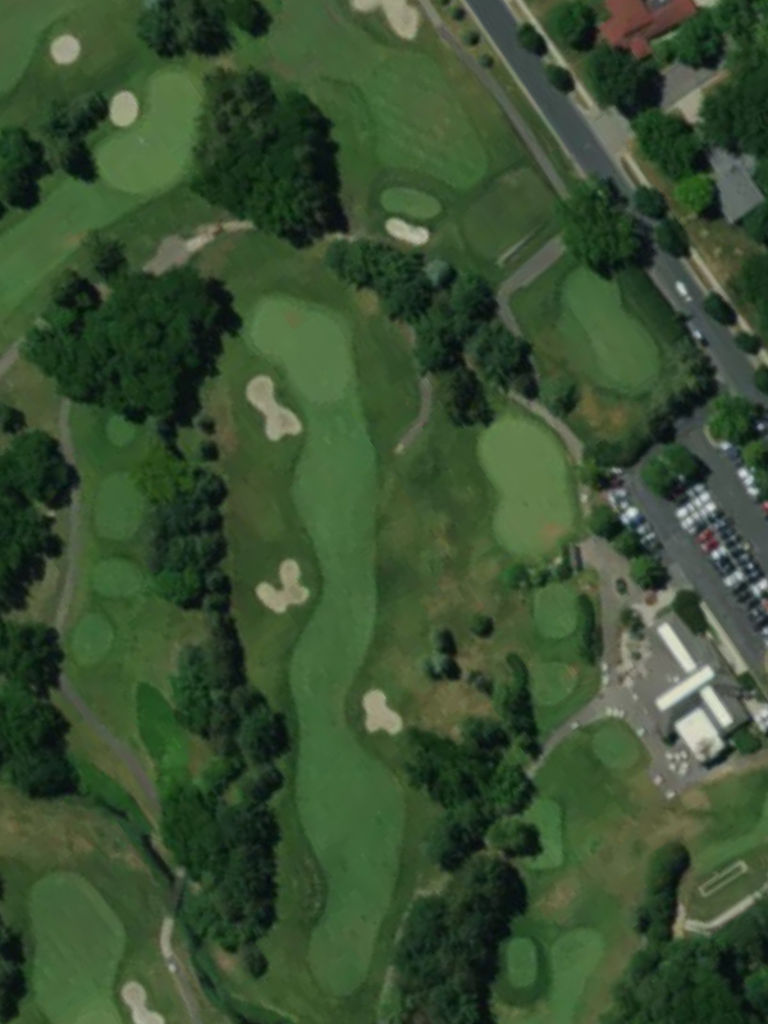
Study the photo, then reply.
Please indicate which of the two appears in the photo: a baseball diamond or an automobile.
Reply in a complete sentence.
The image shows an automobile.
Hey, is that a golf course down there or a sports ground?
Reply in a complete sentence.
It's a golf course.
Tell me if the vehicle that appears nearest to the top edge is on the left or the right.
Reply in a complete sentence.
The vehicle that appears nearest to the top edge is on the right side of the image.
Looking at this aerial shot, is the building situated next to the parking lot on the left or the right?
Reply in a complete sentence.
The building situated next to the parking lot is on the right side of the image.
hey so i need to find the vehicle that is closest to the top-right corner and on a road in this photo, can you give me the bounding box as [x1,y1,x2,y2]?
[673,278,693,300]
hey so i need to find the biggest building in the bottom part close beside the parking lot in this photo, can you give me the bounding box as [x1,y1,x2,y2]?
[648,608,755,761]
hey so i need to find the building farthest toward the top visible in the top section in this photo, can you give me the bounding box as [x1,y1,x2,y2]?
[602,0,699,58]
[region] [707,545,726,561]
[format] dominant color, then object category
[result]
white car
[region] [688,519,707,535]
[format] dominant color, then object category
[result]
gray car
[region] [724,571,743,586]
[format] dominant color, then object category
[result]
white car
